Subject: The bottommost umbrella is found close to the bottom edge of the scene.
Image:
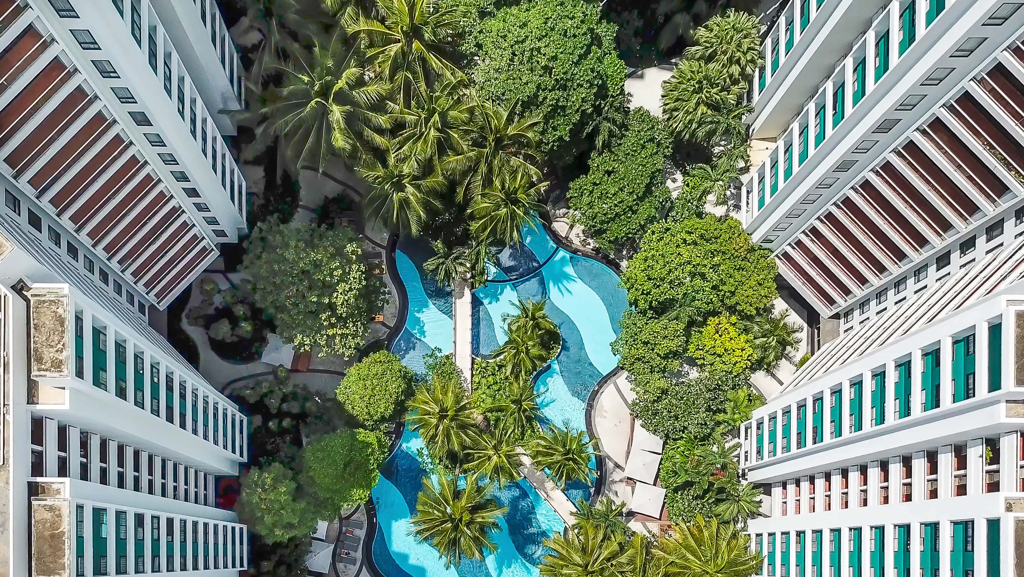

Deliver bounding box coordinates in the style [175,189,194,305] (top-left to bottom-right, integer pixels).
[304,540,334,574]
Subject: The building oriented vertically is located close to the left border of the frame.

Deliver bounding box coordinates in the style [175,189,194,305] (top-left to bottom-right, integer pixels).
[0,0,247,577]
